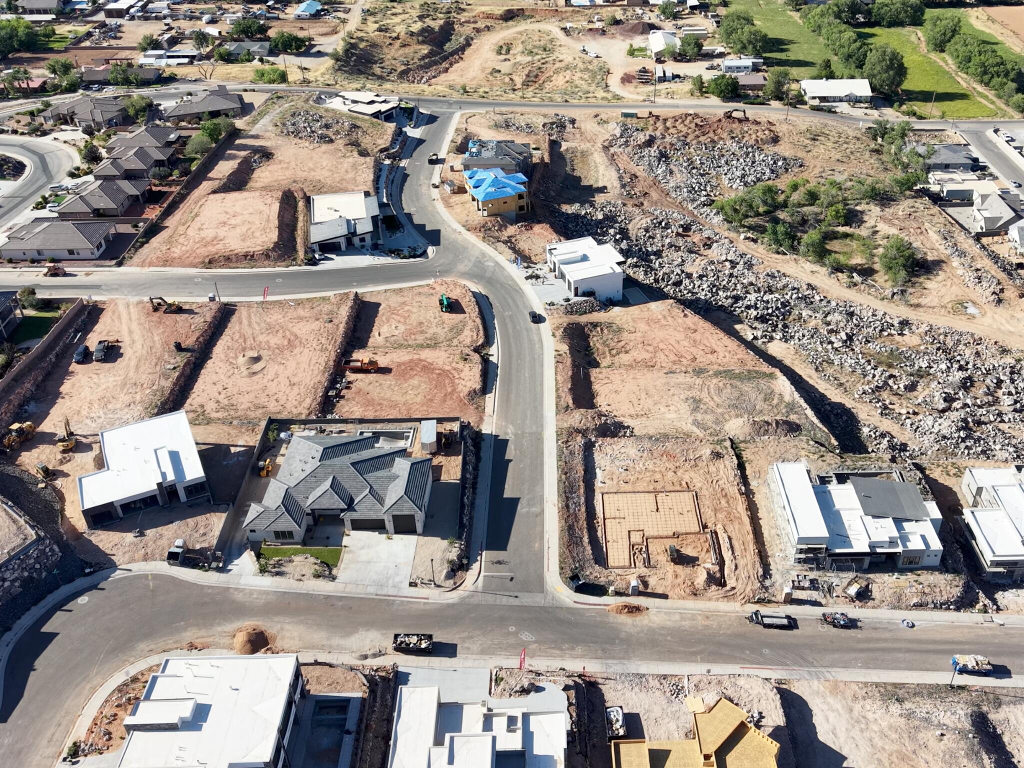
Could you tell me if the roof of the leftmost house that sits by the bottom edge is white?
Yes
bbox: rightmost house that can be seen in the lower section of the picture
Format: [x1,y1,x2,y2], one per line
[958,467,1024,584]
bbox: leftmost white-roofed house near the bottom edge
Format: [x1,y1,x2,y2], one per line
[118,655,306,768]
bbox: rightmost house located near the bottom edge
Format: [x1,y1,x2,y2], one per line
[612,698,780,768]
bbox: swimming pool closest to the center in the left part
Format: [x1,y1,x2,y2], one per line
[357,427,413,448]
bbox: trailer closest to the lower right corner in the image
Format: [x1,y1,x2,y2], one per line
[940,649,1000,676]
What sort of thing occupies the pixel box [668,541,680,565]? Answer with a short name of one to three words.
vehicle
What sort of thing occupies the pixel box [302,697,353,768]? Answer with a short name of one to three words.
swimming pool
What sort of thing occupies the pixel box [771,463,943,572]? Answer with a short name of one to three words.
house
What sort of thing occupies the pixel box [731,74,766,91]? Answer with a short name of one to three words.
house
